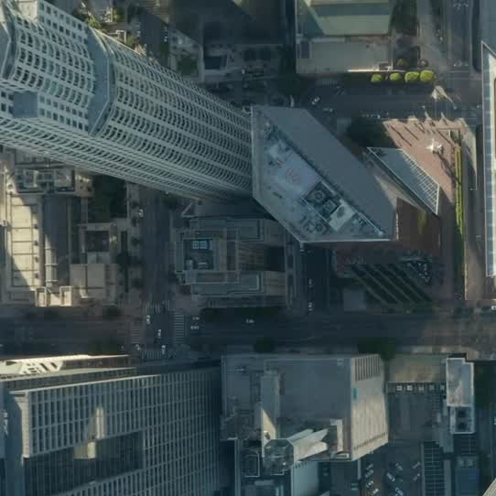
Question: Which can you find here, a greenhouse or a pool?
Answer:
greenhouse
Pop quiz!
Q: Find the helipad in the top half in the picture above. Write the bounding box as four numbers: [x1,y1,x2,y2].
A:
[274,142,319,186]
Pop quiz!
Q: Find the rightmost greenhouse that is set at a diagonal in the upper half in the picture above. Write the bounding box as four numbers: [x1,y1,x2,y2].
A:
[368,147,442,215]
